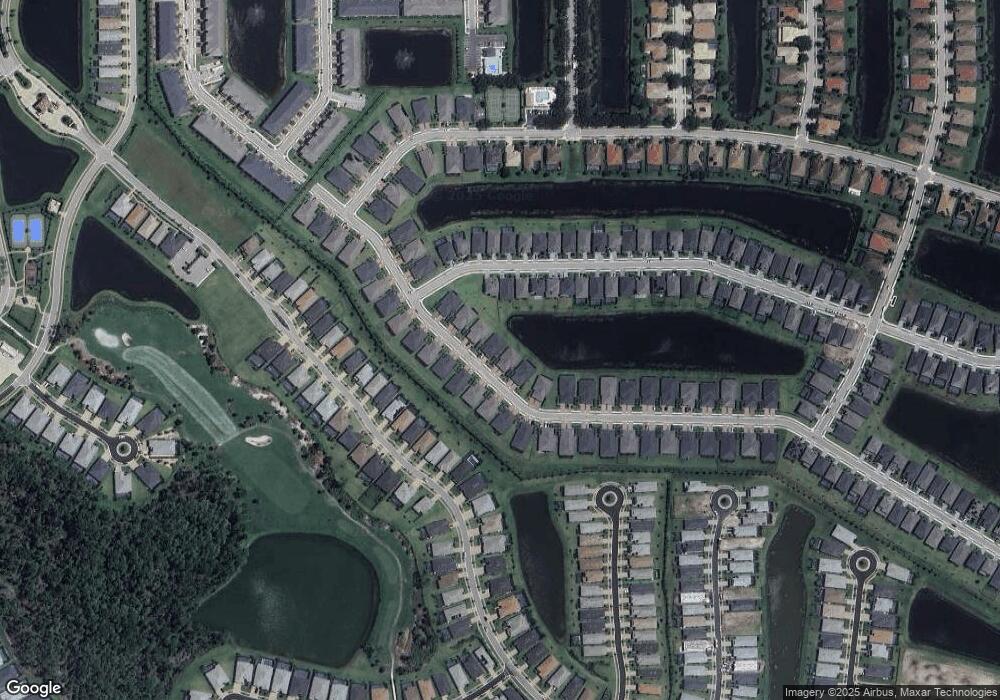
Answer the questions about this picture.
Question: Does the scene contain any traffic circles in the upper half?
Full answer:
No, the scene shows no traffic circle in the upper half.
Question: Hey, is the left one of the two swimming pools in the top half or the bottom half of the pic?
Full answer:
Seen from above, the left one of the two swimming pools lies in the top half of the view.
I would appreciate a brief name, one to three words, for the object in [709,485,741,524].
roundabout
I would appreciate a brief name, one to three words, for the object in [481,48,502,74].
swimming pool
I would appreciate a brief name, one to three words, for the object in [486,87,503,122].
tennis court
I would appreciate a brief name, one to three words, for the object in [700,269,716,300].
house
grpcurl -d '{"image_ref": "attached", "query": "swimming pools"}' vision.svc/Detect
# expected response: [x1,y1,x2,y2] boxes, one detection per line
[481,48,502,74]
[527,87,555,108]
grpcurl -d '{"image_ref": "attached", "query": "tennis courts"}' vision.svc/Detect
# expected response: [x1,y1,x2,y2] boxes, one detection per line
[11,214,26,248]
[486,87,503,122]
[504,87,520,122]
[27,214,44,248]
